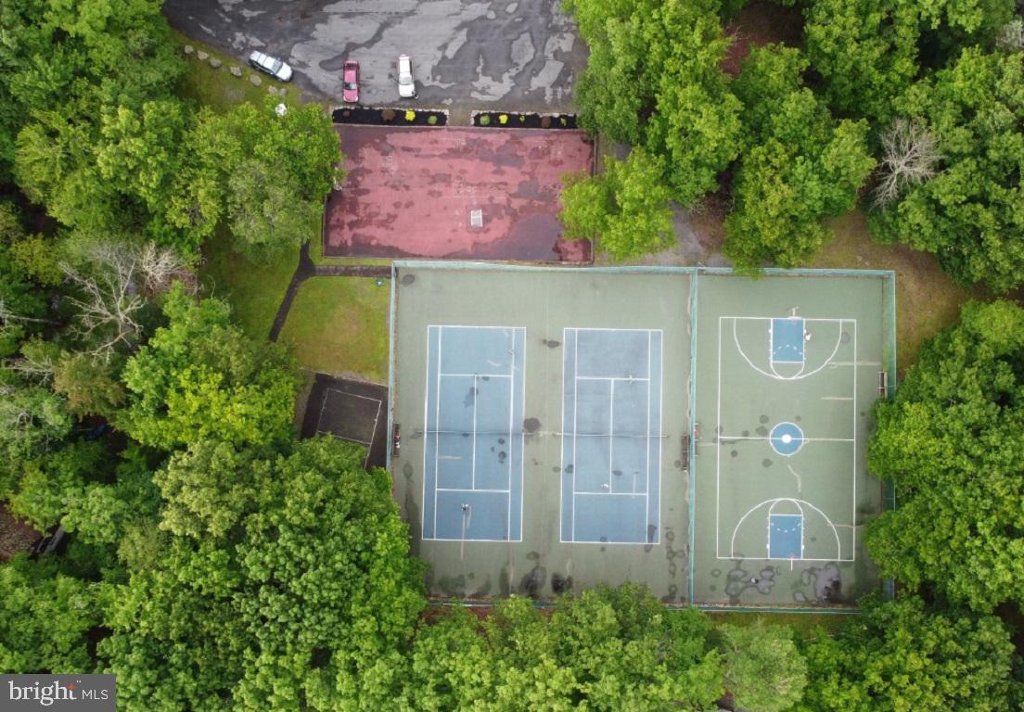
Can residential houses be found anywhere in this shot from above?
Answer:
No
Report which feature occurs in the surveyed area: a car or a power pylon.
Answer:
car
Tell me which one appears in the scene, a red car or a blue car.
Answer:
red car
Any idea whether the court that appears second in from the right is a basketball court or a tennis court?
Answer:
tennis court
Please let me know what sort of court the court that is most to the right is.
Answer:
basketball court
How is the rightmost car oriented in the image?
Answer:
up and down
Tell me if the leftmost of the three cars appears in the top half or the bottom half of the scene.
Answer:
top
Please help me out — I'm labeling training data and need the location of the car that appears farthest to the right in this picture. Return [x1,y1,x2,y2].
[397,52,417,96]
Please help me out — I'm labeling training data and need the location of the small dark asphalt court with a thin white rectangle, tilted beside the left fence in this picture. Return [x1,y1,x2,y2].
[297,372,392,474]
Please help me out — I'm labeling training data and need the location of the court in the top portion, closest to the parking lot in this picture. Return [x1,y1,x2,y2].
[322,123,598,262]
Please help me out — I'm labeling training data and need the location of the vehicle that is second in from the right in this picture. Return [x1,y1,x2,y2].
[342,59,360,101]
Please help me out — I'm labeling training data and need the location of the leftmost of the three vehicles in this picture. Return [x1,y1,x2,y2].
[247,47,292,80]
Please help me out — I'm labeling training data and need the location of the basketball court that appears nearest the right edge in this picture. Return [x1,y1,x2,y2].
[688,275,882,608]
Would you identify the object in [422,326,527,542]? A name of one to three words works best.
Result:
tennis court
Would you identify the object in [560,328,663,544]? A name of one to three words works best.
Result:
tennis court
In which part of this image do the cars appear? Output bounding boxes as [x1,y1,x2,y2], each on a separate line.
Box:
[342,59,360,101]
[397,52,417,96]
[247,47,292,80]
